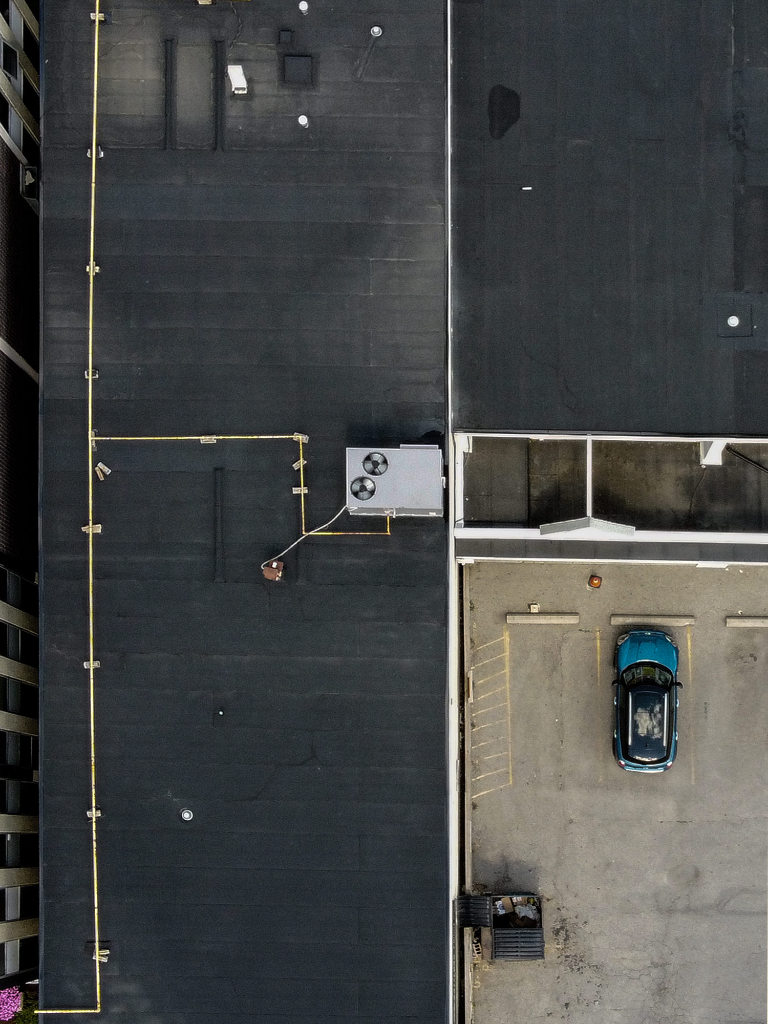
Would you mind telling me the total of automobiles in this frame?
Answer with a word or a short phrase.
one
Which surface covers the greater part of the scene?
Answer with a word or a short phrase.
buildings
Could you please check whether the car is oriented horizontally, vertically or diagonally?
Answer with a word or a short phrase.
vertically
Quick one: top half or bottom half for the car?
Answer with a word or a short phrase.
bottom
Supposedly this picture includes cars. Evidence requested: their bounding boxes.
[612,630,683,774]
